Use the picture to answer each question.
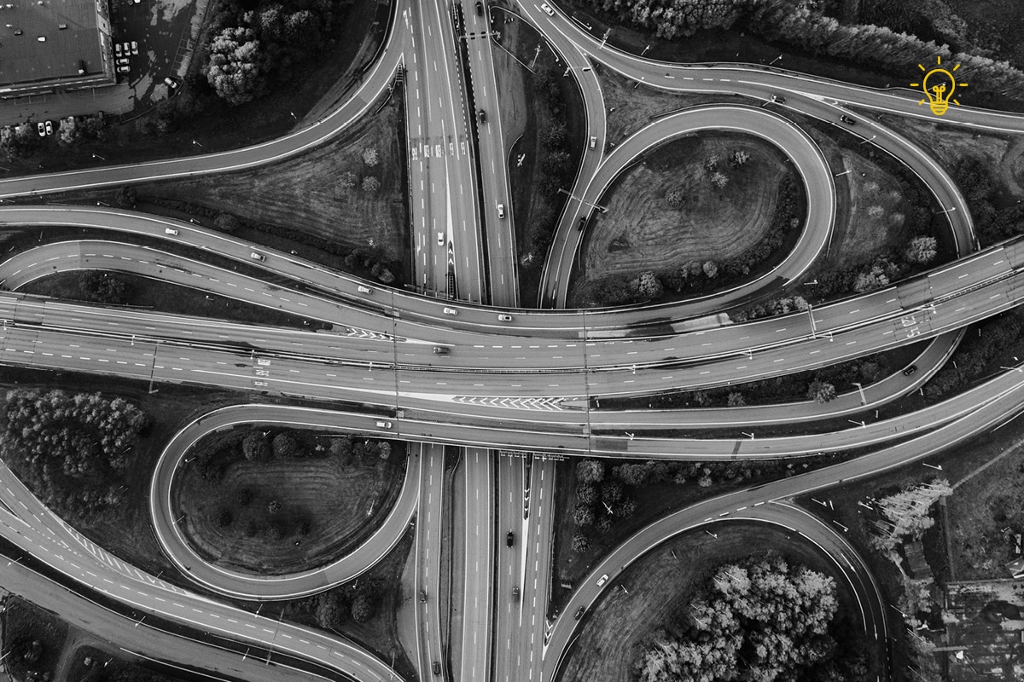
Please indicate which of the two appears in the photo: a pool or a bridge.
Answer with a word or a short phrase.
bridge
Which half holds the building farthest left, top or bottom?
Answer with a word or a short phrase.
top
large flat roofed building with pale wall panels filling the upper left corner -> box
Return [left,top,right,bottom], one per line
[0,0,116,97]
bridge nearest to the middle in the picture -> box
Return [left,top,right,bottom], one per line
[394,290,590,457]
